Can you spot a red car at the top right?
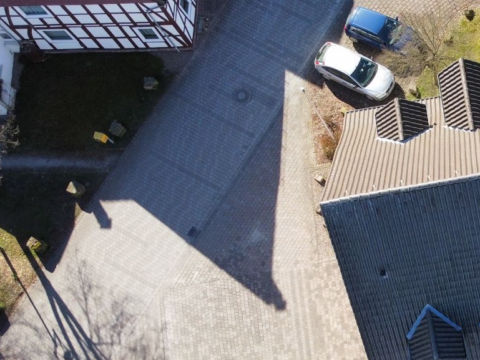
No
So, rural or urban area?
urban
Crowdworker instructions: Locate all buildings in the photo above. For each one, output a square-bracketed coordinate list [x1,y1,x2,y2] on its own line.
[320,60,480,360]
[0,0,197,48]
